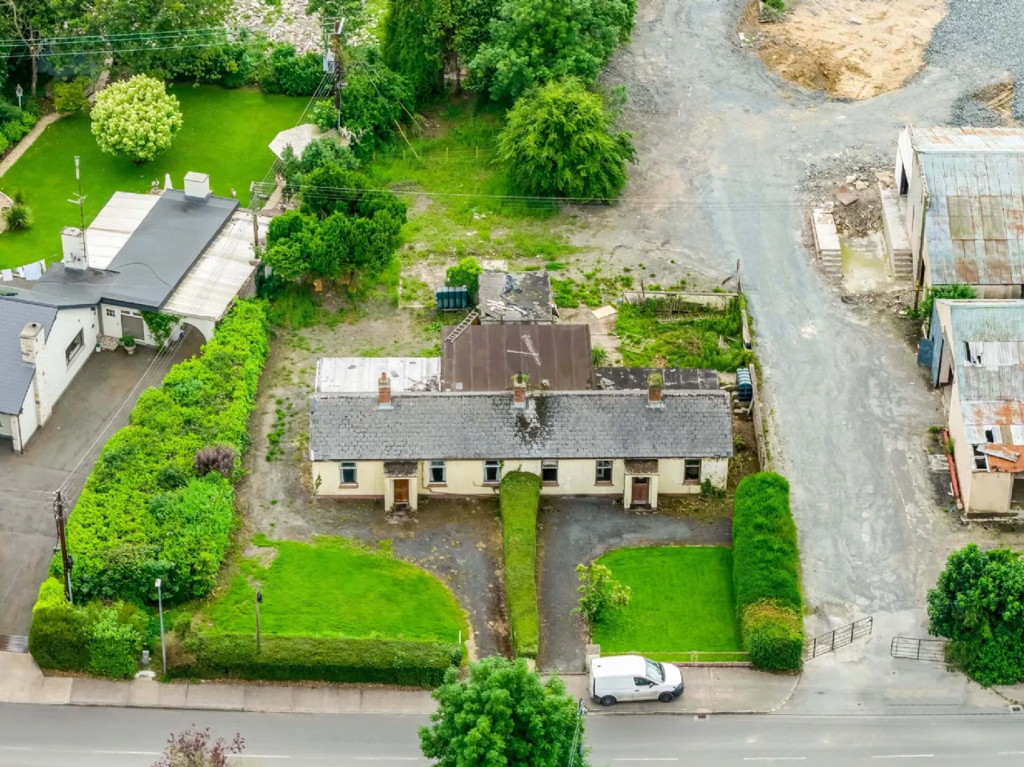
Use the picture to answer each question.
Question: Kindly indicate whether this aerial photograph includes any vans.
Yes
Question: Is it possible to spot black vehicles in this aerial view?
No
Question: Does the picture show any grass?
Yes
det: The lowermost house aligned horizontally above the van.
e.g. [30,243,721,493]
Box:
[307,322,733,512]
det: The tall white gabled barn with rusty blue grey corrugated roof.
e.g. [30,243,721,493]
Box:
[906,125,1024,315]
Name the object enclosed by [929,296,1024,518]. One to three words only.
barn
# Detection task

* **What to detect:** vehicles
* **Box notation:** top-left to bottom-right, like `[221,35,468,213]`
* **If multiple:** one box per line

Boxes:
[584,653,685,706]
